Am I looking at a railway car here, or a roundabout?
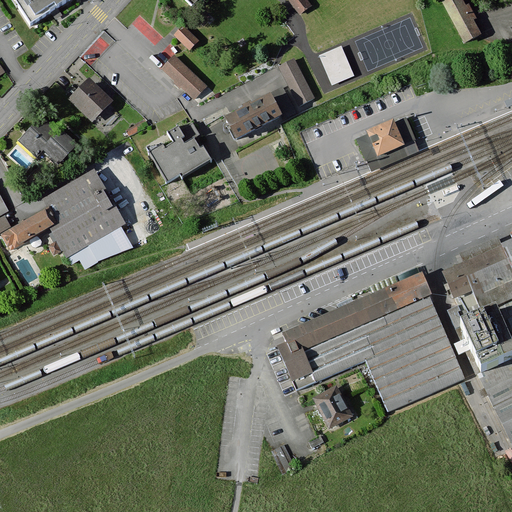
railway car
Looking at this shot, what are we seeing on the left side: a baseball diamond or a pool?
pool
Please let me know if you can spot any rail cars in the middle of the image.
Yes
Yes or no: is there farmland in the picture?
No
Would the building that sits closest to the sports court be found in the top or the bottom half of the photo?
top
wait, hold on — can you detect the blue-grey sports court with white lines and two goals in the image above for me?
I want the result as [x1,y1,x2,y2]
[356,18,422,70]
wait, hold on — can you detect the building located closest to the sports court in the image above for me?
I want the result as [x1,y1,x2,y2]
[319,46,354,86]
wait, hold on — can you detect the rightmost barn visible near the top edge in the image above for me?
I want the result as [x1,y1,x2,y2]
[444,0,482,44]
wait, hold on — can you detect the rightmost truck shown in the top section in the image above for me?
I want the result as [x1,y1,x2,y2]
[470,181,506,208]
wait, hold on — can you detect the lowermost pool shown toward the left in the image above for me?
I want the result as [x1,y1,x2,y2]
[15,257,38,284]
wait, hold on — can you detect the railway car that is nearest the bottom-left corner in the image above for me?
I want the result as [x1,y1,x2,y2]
[4,370,44,390]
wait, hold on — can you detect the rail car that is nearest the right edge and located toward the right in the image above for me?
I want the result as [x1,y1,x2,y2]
[414,164,454,186]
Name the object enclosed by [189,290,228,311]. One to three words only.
rail car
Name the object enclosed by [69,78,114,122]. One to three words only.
house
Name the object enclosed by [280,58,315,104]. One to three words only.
shed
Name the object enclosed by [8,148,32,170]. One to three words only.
swimming pool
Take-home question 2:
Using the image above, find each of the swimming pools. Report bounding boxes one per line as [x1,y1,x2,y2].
[8,148,32,170]
[342,426,354,436]
[15,257,38,284]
